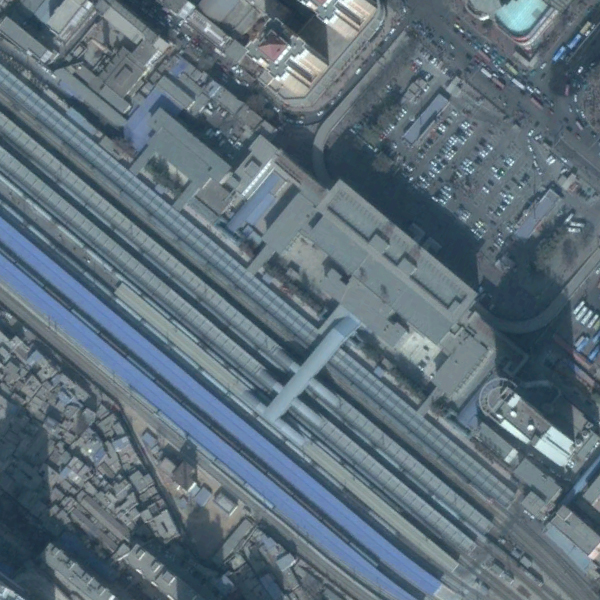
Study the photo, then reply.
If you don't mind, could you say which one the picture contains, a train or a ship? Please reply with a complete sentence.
The one in the frame is a train.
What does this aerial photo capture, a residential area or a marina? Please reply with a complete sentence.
The area seen from above is a residential area.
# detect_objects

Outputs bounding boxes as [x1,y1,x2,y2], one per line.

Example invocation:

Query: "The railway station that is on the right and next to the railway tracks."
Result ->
[247,178,500,407]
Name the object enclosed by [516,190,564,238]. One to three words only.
shed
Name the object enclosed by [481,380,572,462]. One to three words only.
building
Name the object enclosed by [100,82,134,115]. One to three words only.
building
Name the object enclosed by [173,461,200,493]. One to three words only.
house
